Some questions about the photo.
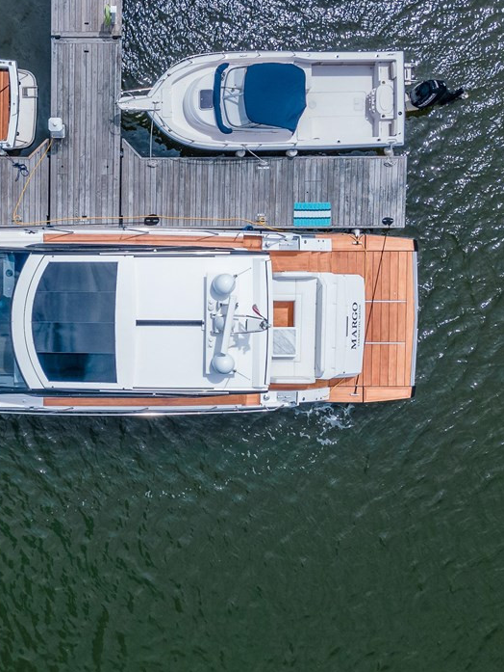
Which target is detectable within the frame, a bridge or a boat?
boat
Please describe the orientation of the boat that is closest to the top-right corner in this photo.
from left to right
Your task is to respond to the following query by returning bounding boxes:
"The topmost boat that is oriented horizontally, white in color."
[117,49,469,149]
